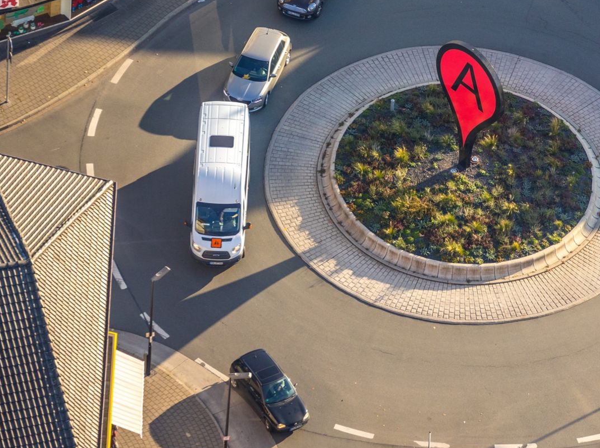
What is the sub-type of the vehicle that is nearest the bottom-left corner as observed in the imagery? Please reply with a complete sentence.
I'd say the vehicle that is nearest the bottom-left corner is an automobile.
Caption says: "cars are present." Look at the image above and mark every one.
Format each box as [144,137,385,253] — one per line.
[223,23,290,115]
[277,0,324,20]
[235,347,312,433]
